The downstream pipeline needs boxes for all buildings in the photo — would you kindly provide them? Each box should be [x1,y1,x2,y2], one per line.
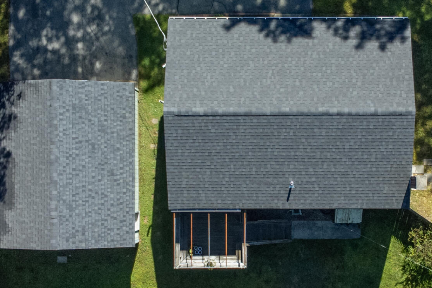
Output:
[159,14,427,214]
[0,79,141,249]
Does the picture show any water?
No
